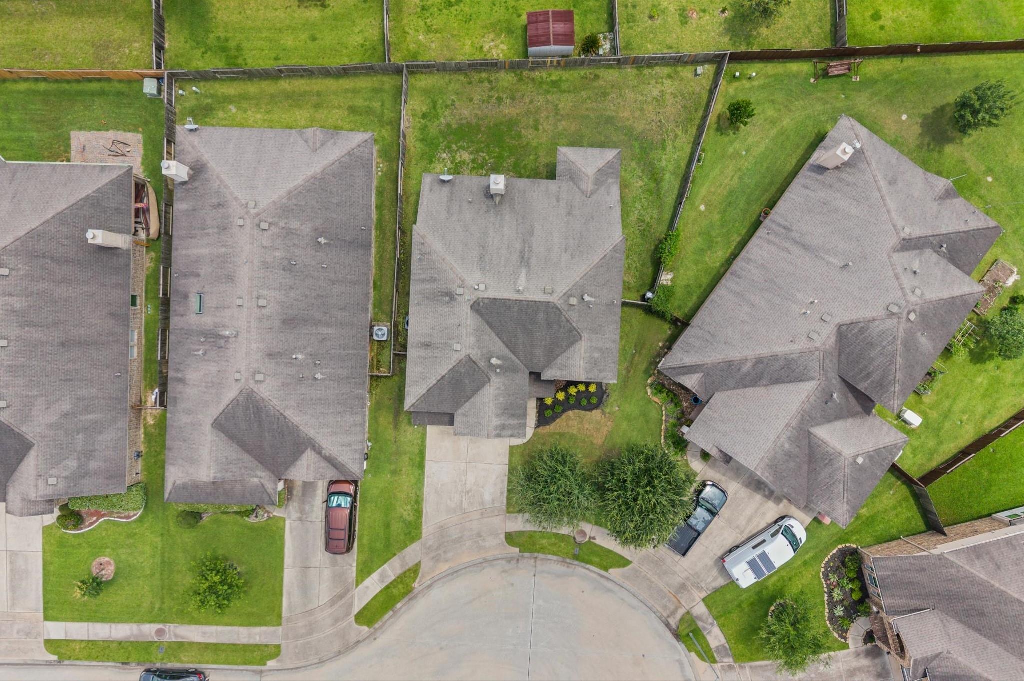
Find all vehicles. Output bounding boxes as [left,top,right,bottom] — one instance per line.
[720,513,808,589]
[660,478,727,560]
[141,667,206,681]
[320,480,358,554]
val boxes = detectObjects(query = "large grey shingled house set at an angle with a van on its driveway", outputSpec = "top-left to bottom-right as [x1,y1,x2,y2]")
[657,115,1003,529]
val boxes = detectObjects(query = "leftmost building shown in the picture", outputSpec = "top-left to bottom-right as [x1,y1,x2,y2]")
[0,155,147,518]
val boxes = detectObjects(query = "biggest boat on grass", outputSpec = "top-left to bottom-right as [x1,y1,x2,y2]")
[145,181,160,240]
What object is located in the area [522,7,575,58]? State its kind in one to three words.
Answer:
shed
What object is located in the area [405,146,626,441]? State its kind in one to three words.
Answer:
house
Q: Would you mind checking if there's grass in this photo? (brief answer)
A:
Yes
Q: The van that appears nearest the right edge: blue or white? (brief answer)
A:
white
